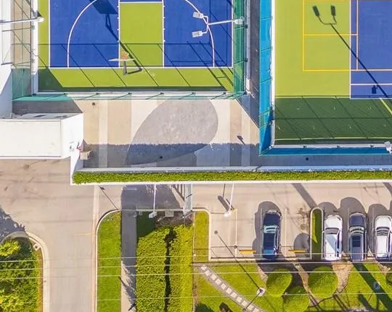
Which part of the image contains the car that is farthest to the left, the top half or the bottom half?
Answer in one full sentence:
The car that is farthest to the left sits in the bottom half of the picture.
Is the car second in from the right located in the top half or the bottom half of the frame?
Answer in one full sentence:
Seen from above, the car second in from the right lies in the bottom half of the view.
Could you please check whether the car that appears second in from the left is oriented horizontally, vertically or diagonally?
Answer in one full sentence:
From this overhead view, the car that appears second in from the left appears to run vertically.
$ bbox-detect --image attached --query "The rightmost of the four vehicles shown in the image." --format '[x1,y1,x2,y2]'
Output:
[373,211,392,257]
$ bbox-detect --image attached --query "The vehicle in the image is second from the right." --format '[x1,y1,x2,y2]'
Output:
[345,212,368,257]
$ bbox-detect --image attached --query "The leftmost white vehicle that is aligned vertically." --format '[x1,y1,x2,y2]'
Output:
[323,212,344,258]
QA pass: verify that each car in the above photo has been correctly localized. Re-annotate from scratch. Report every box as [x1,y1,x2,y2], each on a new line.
[373,211,392,257]
[345,212,368,257]
[260,210,283,255]
[323,212,344,258]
